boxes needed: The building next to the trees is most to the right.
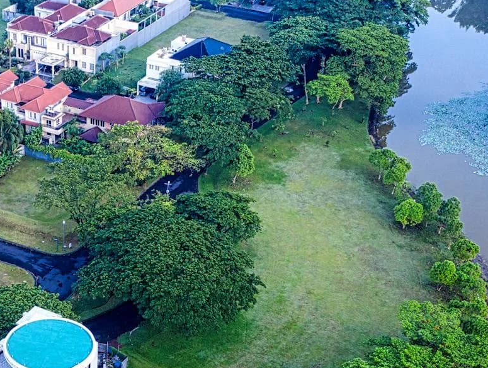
[134,29,232,100]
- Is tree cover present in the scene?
Yes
